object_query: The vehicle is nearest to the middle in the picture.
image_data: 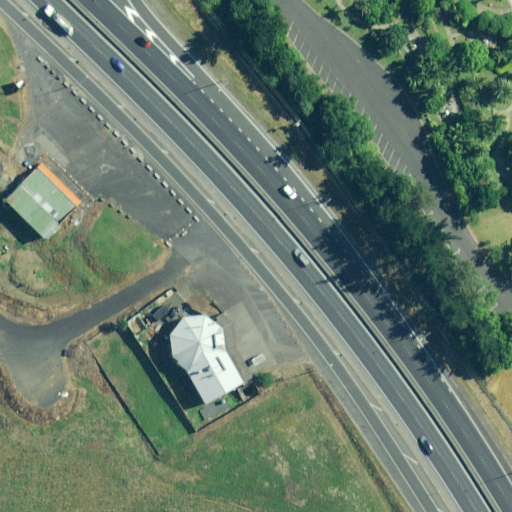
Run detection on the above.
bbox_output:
[295,250,309,265]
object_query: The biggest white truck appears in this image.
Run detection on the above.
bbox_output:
[42,2,76,36]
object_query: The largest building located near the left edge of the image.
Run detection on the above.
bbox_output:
[2,162,81,239]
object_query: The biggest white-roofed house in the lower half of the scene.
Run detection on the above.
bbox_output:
[166,314,244,404]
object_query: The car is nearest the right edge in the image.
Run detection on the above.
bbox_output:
[420,438,432,454]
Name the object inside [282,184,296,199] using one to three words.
vehicle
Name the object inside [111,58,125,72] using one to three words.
car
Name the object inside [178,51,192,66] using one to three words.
car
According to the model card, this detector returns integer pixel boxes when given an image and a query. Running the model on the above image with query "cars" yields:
[295,250,309,265]
[282,184,296,199]
[111,58,125,72]
[420,438,432,454]
[168,306,181,317]
[139,36,152,50]
[178,51,192,66]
